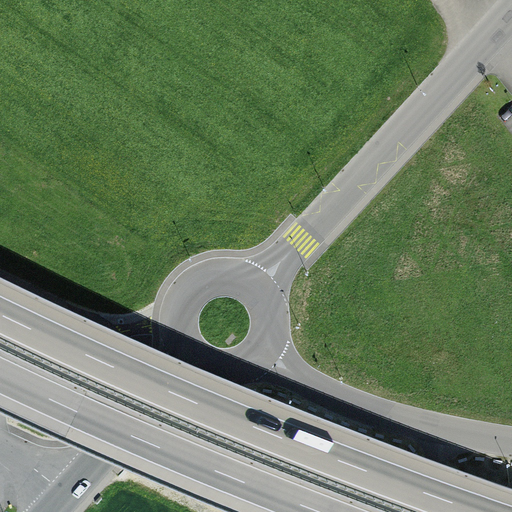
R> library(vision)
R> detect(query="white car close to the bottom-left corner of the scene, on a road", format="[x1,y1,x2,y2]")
[72,480,91,499]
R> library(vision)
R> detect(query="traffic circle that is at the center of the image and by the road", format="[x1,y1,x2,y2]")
[131,214,302,386]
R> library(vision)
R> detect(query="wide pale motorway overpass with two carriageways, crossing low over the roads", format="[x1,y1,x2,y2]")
[0,277,512,512]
